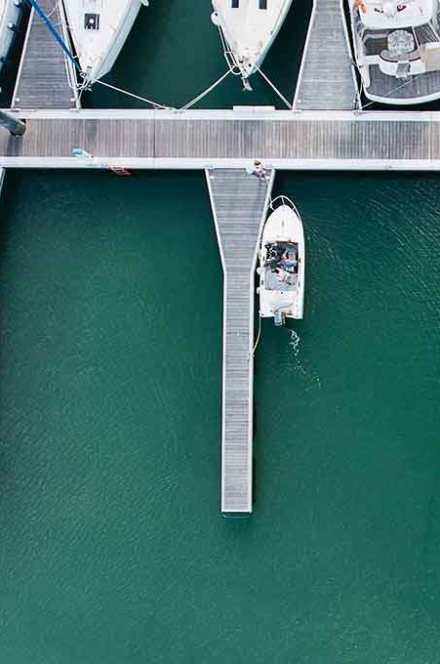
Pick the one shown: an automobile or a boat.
boat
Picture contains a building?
No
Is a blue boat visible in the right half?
No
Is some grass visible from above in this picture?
No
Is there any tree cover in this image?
No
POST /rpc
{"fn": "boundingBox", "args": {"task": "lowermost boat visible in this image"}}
[259,195,306,323]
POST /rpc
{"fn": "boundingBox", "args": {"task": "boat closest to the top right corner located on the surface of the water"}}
[351,0,440,108]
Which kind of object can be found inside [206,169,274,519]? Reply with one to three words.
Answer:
pier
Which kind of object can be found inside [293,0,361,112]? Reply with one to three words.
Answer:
pier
